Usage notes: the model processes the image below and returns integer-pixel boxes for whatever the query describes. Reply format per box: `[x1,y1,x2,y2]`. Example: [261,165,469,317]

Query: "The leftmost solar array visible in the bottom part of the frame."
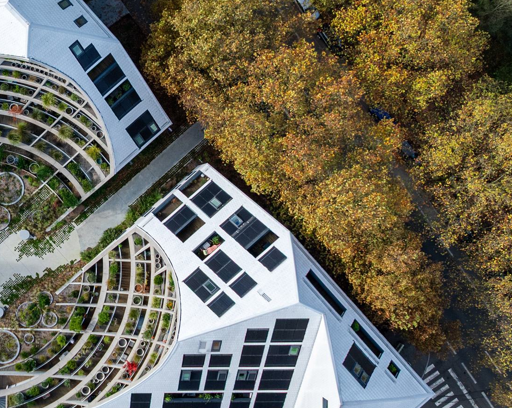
[130,394,152,408]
